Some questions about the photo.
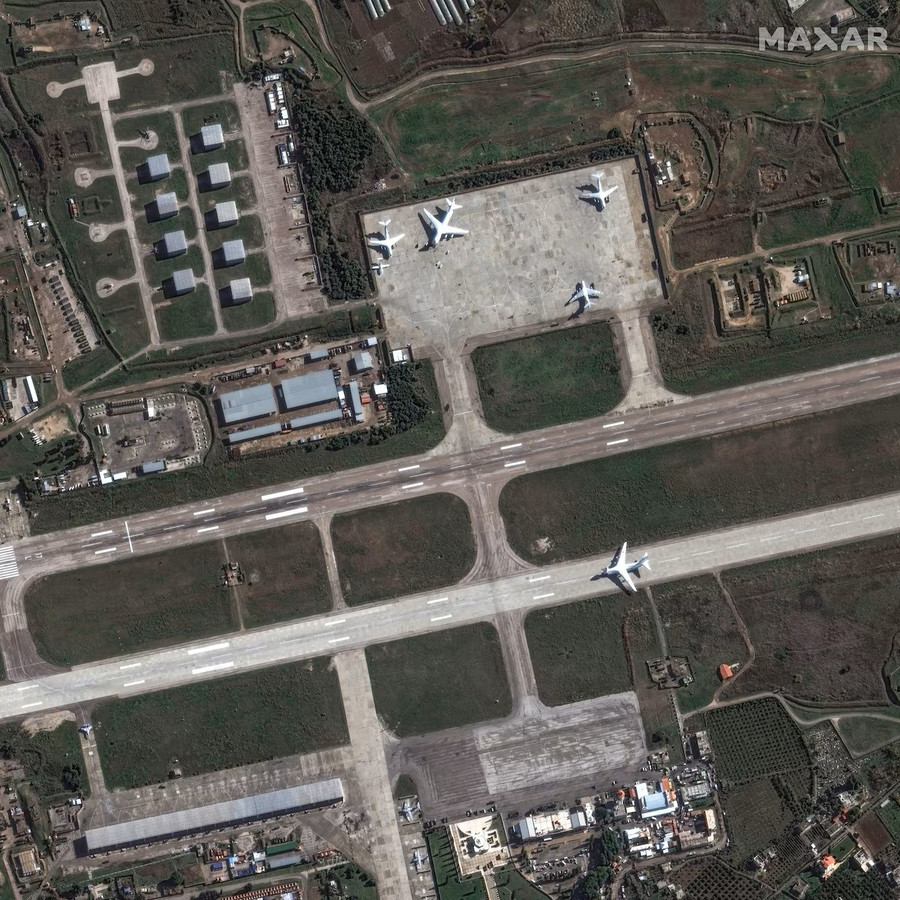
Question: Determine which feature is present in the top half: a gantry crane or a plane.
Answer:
plane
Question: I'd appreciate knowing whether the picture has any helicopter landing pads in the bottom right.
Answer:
No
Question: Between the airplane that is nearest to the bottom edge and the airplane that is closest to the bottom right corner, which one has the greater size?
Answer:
the airplane that is closest to the bottom right corner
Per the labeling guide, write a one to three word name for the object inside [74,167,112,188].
helipad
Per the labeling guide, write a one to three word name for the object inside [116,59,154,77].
helipad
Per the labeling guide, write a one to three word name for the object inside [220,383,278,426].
building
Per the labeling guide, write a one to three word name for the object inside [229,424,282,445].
shed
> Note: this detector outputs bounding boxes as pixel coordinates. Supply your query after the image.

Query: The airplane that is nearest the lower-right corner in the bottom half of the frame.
[606,540,653,590]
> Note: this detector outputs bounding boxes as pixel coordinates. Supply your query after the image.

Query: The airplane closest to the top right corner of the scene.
[583,169,617,207]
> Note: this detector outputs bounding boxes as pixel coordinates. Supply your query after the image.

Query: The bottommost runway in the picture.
[0,493,900,727]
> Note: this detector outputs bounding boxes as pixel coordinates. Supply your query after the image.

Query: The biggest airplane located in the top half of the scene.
[425,195,470,243]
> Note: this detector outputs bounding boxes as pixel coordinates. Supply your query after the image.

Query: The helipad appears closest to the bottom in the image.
[96,275,137,296]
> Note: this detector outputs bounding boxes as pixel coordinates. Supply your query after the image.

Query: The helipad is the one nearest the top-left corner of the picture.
[46,77,84,98]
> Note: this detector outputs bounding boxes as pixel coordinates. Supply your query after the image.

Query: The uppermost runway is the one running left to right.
[0,354,900,583]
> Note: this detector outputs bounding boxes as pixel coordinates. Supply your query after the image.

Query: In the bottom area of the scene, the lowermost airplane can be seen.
[411,849,435,874]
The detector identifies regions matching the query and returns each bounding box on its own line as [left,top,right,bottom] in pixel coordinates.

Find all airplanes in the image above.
[370,218,404,257]
[425,195,470,243]
[411,849,435,874]
[570,281,605,311]
[583,169,617,207]
[81,722,91,737]
[402,798,425,823]
[370,258,388,275]
[606,540,653,590]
